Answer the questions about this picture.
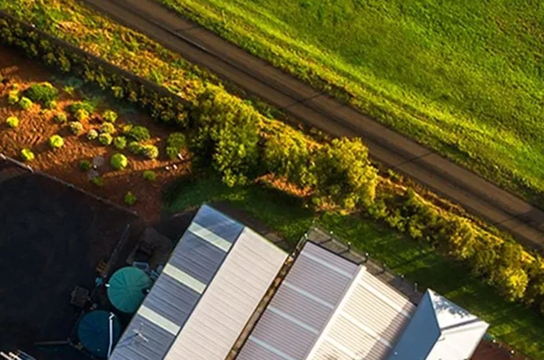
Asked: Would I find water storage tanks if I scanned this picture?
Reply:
Yes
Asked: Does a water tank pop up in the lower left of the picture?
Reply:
Yes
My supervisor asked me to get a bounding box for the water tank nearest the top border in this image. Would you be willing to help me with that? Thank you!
[104,269,154,317]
